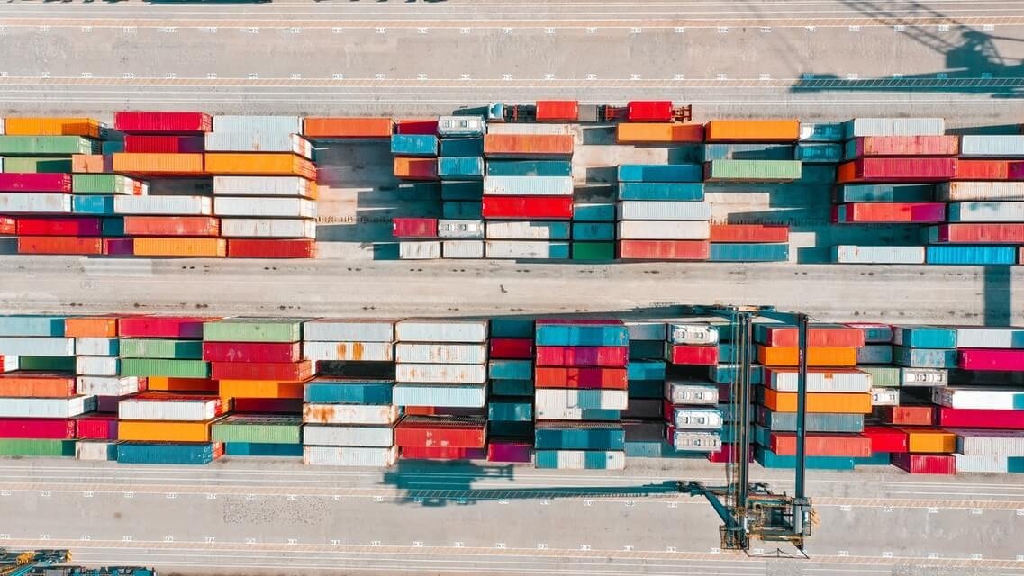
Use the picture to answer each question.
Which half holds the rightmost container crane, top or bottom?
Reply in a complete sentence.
It is in the bottom half that the rightmost container crane appears.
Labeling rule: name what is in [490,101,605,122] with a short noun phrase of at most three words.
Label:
truck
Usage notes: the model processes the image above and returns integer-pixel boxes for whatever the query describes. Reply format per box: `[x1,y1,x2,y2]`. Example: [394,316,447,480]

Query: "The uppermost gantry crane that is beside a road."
[678,302,819,561]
